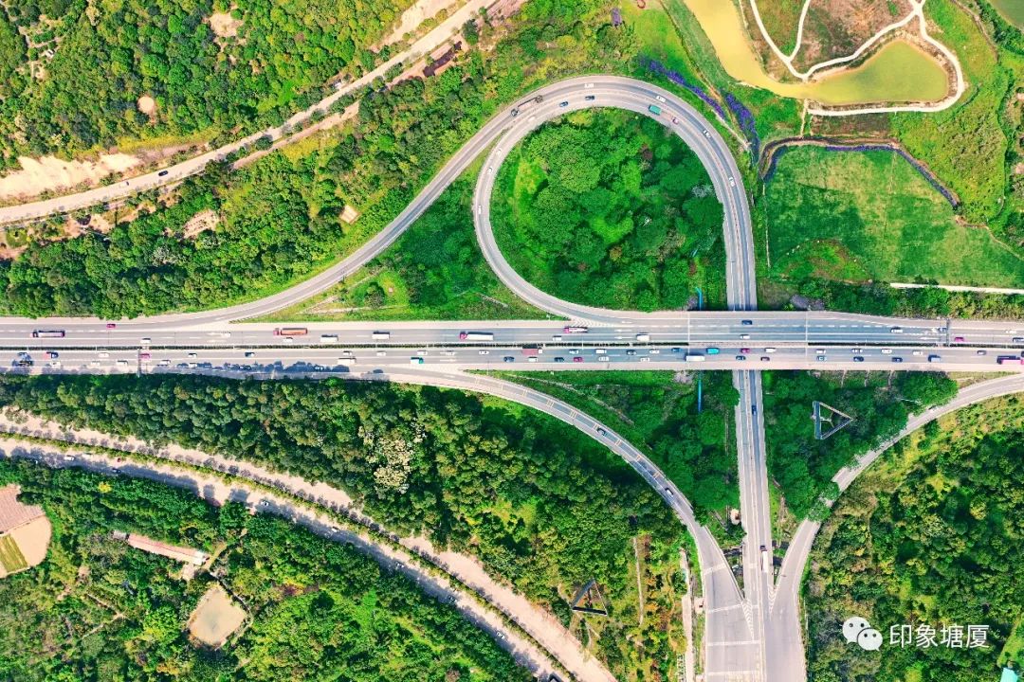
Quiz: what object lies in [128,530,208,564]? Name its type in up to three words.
shed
